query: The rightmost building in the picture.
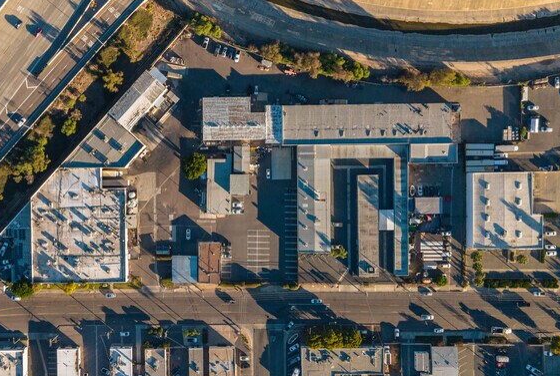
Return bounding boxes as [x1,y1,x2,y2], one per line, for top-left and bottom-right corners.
[467,172,544,249]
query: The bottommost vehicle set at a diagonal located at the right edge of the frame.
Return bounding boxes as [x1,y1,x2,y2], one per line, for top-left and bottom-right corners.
[526,364,542,376]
